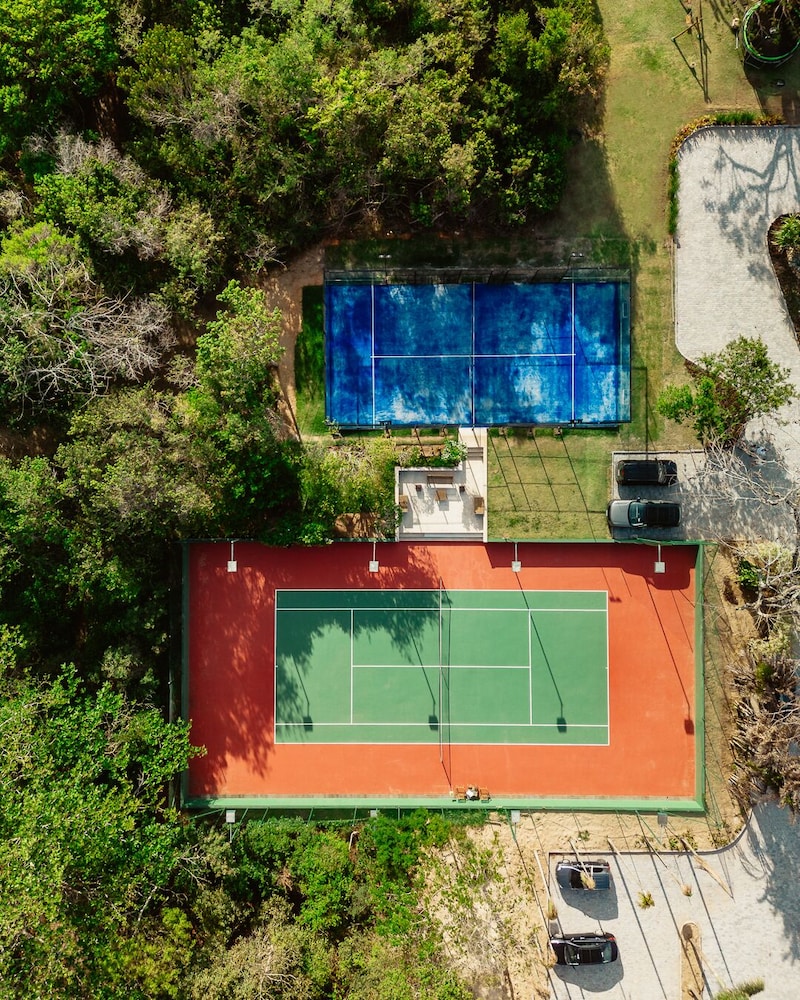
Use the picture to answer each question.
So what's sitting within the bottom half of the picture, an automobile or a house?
automobile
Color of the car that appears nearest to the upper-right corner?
black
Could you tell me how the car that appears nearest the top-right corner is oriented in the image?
horizontally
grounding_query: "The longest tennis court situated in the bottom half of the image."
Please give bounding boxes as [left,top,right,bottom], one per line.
[189,541,695,797]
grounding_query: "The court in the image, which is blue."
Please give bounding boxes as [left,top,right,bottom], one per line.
[322,268,632,438]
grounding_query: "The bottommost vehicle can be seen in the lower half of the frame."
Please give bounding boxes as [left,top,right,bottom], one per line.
[550,930,619,970]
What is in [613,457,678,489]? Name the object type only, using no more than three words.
car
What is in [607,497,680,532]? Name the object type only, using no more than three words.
car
